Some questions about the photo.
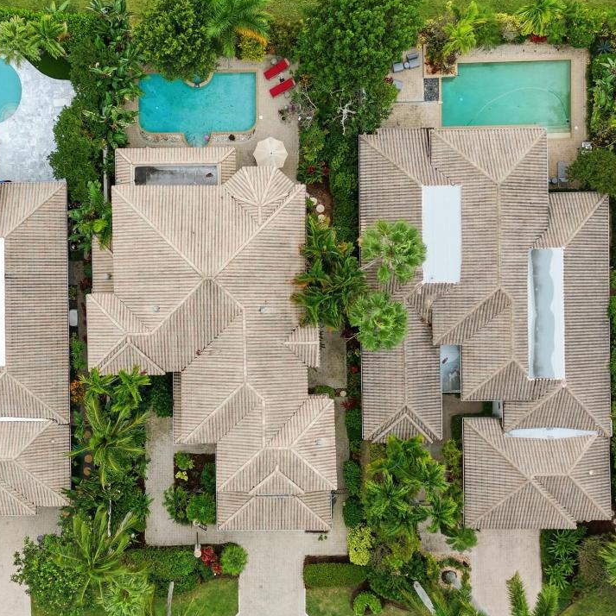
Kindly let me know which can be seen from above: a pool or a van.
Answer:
pool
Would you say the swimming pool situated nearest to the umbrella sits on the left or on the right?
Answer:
left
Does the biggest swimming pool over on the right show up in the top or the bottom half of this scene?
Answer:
top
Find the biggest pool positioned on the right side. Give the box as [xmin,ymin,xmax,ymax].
[438,56,575,136]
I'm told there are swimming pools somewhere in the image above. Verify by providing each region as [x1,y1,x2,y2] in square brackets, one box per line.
[438,56,575,136]
[0,58,26,126]
[136,68,260,147]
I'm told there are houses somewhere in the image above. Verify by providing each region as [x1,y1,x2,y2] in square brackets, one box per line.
[85,146,339,531]
[0,181,73,516]
[358,127,614,530]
